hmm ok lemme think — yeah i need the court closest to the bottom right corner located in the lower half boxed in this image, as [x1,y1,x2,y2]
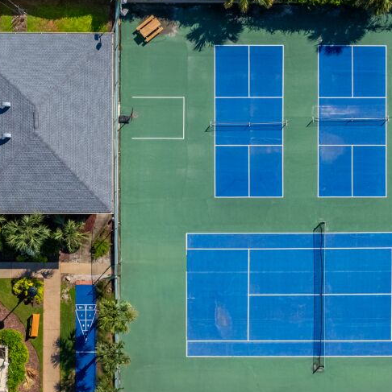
[186,232,392,357]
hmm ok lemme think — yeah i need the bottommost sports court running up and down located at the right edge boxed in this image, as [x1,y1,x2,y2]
[318,45,386,198]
